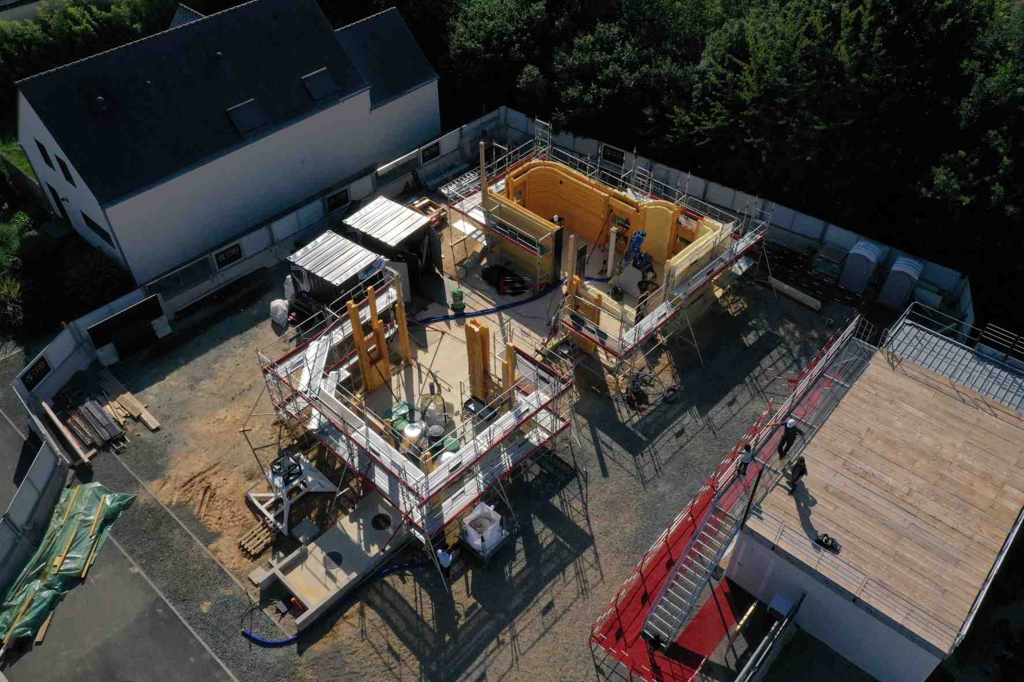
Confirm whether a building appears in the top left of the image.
Yes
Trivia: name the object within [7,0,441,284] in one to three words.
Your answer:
house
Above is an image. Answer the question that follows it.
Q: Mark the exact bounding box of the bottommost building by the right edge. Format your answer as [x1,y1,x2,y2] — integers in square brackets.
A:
[731,300,1024,682]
